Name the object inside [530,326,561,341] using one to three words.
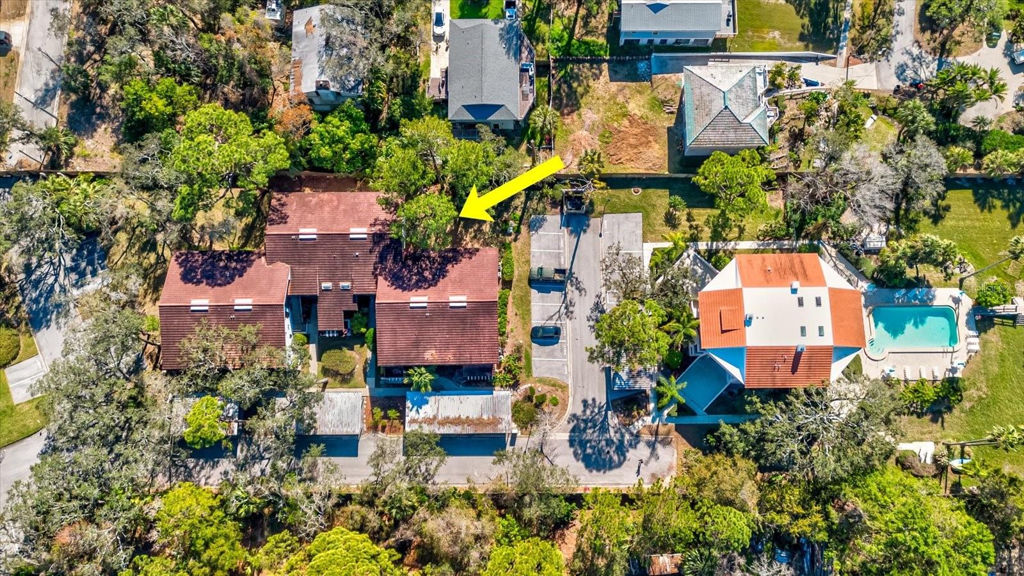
car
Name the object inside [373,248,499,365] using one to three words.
house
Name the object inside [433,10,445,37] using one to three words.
vehicle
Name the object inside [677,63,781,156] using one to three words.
house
